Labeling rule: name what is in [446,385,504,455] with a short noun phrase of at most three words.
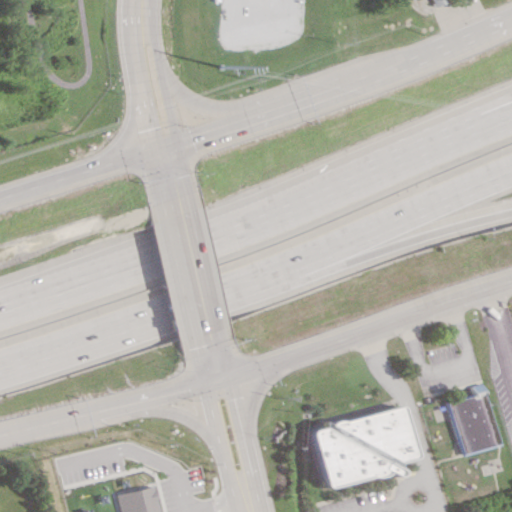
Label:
building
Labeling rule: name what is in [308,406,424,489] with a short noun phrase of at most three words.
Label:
building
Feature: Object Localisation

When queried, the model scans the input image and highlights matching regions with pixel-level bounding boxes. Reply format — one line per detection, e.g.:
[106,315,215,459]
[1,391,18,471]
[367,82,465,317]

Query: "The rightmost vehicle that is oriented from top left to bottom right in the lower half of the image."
[487,308,503,322]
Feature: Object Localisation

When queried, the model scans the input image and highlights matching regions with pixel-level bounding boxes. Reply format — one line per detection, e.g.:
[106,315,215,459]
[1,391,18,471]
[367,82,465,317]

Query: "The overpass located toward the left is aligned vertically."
[146,176,236,361]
